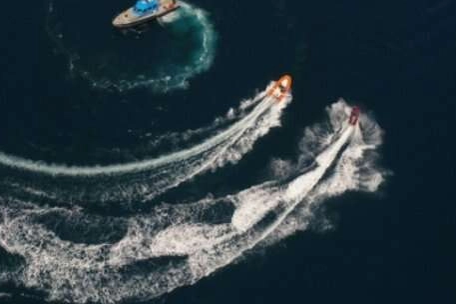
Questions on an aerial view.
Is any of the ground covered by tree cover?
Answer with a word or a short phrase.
No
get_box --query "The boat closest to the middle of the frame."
[267,73,290,100]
